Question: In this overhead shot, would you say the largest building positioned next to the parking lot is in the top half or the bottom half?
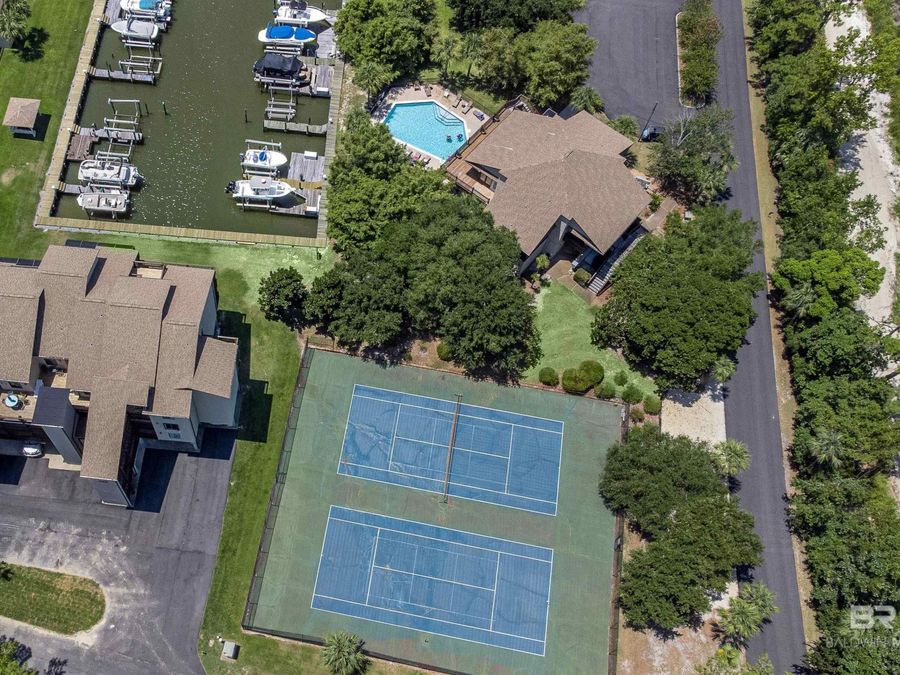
top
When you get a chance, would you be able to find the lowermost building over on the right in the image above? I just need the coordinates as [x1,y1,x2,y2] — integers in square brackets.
[465,110,651,268]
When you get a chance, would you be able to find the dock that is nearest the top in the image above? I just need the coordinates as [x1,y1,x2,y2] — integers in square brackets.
[102,0,122,25]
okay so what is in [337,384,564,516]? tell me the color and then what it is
blue tennis court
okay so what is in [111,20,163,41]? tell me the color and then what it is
white boat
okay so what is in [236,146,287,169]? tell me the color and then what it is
white boat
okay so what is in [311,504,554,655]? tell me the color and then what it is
blue tennis court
